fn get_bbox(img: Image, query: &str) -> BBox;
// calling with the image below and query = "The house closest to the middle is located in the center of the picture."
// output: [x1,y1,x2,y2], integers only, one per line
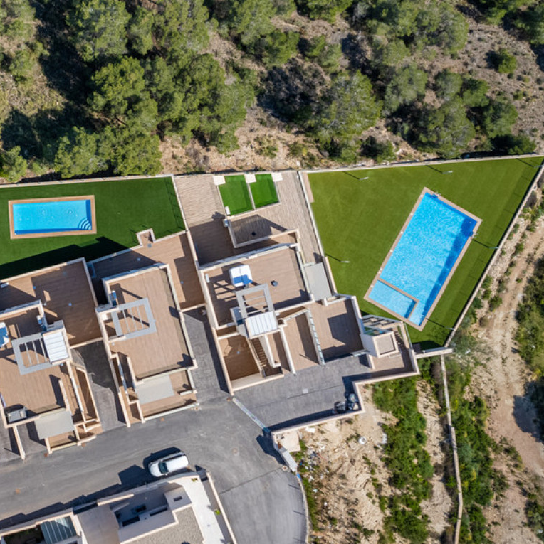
[191,244,331,374]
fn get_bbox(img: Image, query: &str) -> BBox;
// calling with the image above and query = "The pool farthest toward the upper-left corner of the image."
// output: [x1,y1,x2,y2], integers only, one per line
[9,196,97,239]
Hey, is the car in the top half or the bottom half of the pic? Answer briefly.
bottom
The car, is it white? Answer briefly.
Yes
